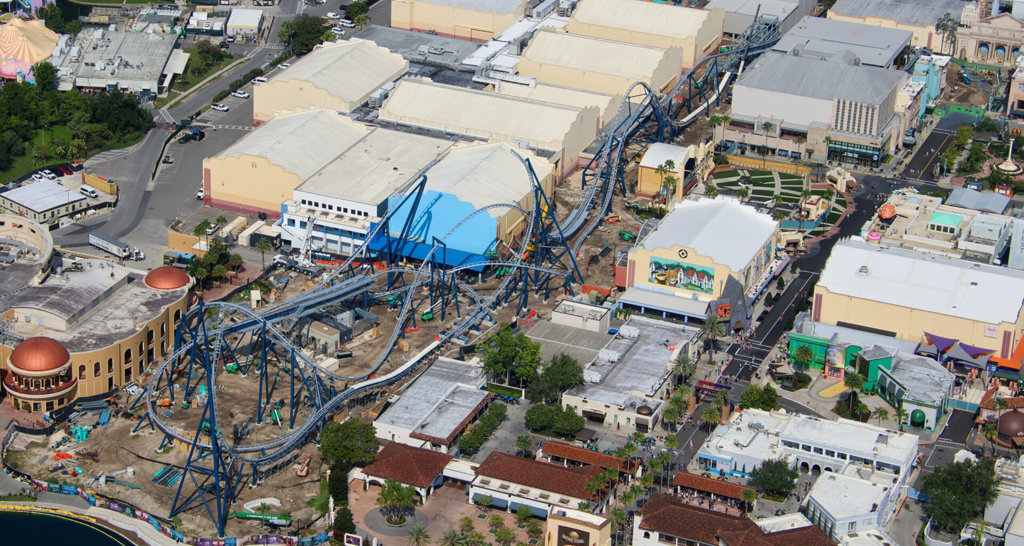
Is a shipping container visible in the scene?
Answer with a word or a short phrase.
Yes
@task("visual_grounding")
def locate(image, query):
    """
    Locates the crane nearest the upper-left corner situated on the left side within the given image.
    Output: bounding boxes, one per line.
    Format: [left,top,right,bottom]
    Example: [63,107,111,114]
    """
[275,220,322,276]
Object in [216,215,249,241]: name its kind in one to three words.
shipping container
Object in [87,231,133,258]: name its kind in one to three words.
trailer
